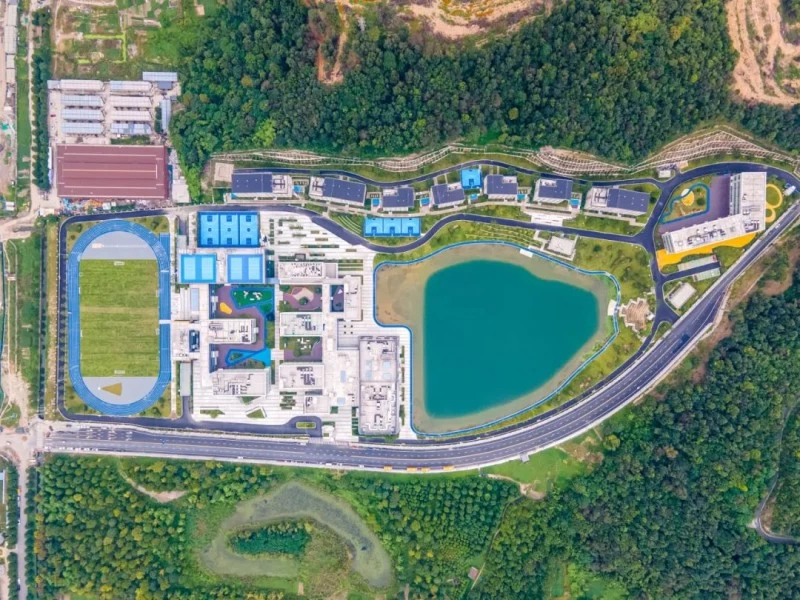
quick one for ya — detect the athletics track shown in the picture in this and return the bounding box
[67,220,170,416]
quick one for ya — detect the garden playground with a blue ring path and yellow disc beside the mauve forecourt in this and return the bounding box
[662,184,710,223]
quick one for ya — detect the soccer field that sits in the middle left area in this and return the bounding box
[79,259,159,377]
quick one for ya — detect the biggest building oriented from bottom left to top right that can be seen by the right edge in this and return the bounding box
[660,172,767,255]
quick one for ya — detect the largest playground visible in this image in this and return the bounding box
[214,284,275,370]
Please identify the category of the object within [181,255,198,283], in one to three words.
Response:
tennis court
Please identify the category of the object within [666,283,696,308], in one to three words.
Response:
building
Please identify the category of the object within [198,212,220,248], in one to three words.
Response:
basketball court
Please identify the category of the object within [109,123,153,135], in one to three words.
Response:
shed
